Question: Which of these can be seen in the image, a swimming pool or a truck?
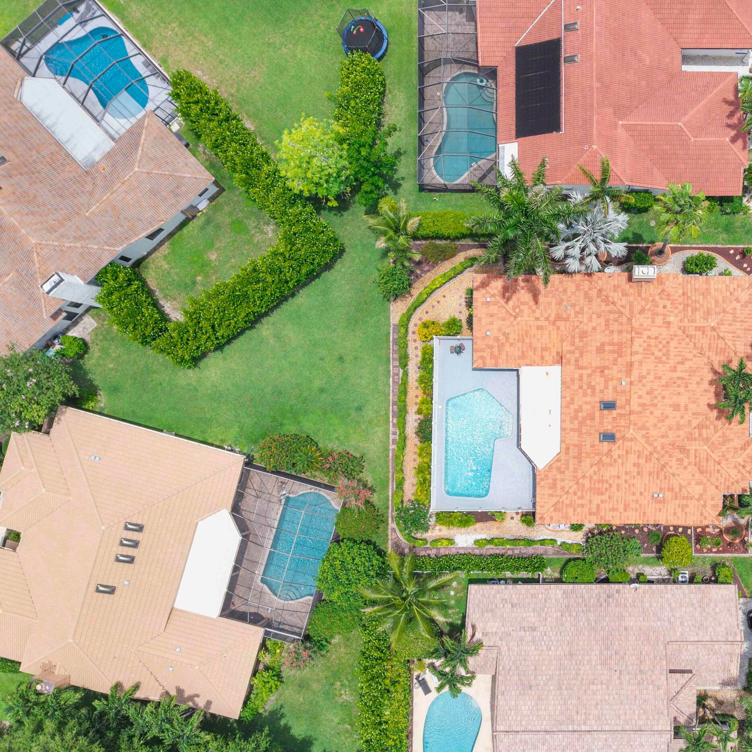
swimming pool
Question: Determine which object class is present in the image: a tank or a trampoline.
trampoline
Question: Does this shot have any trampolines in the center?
No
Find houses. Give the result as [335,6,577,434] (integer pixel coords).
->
[0,408,271,720]
[470,0,752,198]
[469,582,743,752]
[0,41,218,384]
[471,265,752,526]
